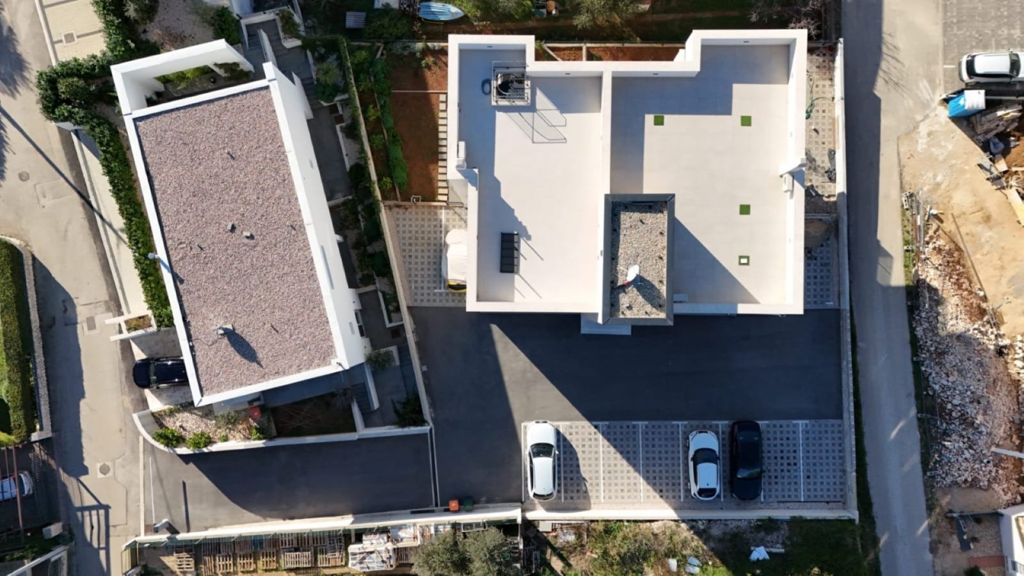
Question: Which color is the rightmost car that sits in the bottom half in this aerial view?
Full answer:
The rightmost car that sits in the bottom half looks black in the image.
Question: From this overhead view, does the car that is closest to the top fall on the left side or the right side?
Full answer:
The car that is closest to the top is on the right side of the image.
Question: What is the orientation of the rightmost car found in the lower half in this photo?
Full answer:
The rightmost car found in the lower half runs up and down in the image.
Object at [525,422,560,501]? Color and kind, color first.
white car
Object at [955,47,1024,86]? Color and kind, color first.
white car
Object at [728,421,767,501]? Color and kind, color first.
black car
